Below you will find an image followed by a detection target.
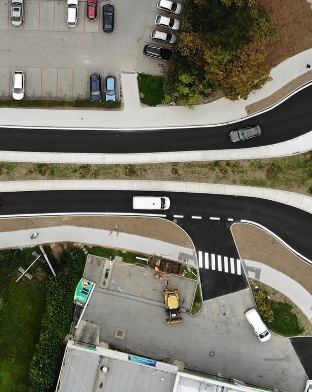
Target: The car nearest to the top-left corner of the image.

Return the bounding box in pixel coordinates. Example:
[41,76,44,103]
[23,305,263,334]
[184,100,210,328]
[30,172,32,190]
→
[10,0,25,26]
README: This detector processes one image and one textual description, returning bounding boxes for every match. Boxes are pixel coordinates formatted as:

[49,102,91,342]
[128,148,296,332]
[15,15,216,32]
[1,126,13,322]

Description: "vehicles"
[64,0,80,27]
[229,126,261,143]
[156,0,182,14]
[89,73,103,102]
[10,0,25,26]
[304,379,312,392]
[101,4,116,32]
[86,0,99,21]
[103,75,118,102]
[151,28,177,44]
[11,71,25,101]
[155,14,180,30]
[163,272,183,326]
[133,196,169,211]
[244,306,270,341]
[143,44,172,60]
